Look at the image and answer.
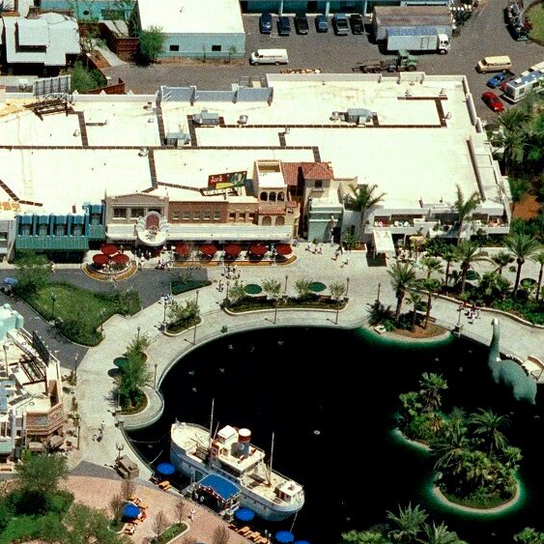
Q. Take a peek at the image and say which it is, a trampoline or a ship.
ship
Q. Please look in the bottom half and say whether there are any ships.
Yes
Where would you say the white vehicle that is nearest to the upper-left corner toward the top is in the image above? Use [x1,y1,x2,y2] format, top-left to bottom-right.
[251,43,287,61]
